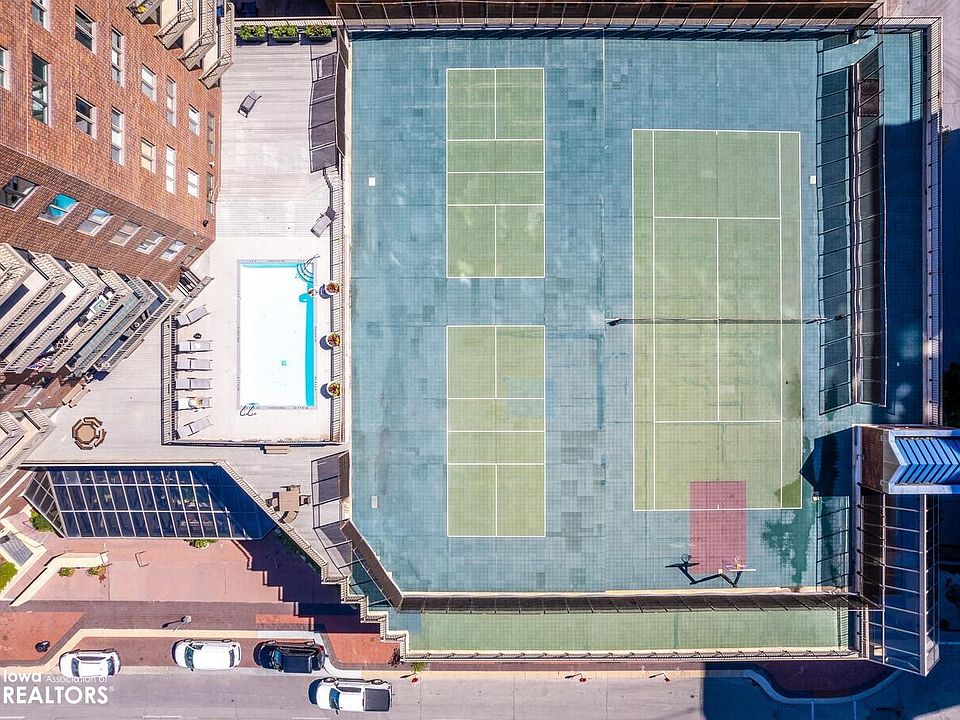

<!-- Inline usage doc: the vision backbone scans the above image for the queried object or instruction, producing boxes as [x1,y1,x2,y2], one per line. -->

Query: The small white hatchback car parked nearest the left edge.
[60,649,124,682]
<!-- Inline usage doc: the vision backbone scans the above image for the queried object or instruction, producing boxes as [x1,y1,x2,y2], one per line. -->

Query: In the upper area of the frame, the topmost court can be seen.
[446,68,546,278]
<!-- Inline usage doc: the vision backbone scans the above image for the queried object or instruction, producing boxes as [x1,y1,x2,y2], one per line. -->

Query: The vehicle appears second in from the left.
[175,638,243,673]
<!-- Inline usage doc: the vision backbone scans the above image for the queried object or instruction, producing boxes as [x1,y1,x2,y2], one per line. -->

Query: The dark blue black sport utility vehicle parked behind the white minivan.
[259,638,326,673]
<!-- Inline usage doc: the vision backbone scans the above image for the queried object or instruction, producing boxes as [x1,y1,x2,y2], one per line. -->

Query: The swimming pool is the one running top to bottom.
[238,256,319,415]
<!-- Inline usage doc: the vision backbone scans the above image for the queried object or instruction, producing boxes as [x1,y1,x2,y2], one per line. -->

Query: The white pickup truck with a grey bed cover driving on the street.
[316,678,394,715]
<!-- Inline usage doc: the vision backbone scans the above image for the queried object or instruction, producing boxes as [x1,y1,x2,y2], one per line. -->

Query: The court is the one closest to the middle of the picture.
[446,325,547,537]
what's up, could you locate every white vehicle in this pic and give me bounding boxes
[60,649,124,682]
[316,678,394,715]
[175,638,243,673]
